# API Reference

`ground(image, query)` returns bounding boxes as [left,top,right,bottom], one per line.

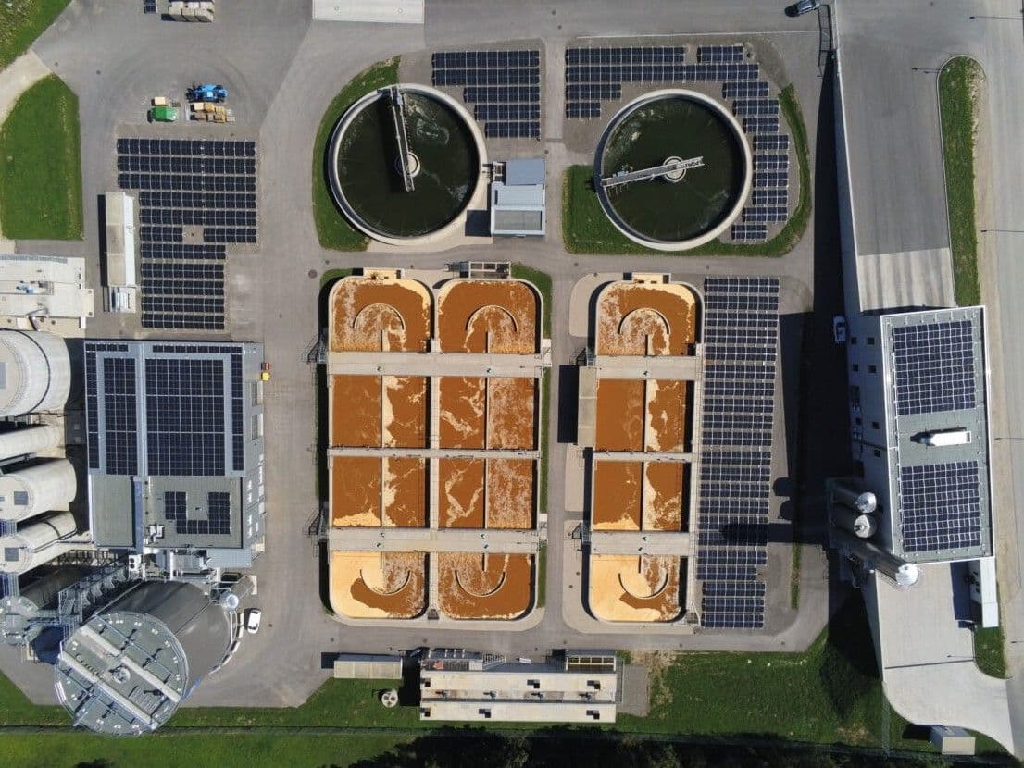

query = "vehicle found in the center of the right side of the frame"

[832,315,847,344]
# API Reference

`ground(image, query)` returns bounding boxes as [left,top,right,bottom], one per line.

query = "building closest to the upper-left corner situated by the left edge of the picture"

[0,253,100,318]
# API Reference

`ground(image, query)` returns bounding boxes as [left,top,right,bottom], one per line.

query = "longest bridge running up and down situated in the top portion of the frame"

[391,85,414,191]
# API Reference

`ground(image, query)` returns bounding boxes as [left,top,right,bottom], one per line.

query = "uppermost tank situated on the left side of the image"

[327,82,488,246]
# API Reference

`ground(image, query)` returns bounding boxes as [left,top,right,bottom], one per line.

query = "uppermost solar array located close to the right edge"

[894,320,976,414]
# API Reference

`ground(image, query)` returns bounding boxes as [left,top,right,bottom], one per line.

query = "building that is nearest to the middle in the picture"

[575,366,597,448]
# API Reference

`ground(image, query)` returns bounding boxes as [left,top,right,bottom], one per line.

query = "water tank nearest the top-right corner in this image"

[592,88,754,253]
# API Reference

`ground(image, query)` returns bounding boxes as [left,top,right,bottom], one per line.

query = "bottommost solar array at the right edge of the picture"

[900,460,982,552]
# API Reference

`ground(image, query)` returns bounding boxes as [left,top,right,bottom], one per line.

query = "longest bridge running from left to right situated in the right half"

[600,155,704,186]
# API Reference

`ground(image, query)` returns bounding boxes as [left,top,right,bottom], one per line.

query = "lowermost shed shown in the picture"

[928,724,976,755]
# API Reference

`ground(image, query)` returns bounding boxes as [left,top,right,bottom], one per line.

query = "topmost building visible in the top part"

[491,159,545,237]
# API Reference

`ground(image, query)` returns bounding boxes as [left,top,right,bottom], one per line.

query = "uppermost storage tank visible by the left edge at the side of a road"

[0,327,71,417]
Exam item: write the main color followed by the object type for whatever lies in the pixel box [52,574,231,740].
gray storage tank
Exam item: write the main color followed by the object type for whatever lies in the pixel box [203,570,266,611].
gray silo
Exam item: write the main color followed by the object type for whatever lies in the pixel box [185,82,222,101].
blue work vehicle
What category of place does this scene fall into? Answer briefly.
industrial area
